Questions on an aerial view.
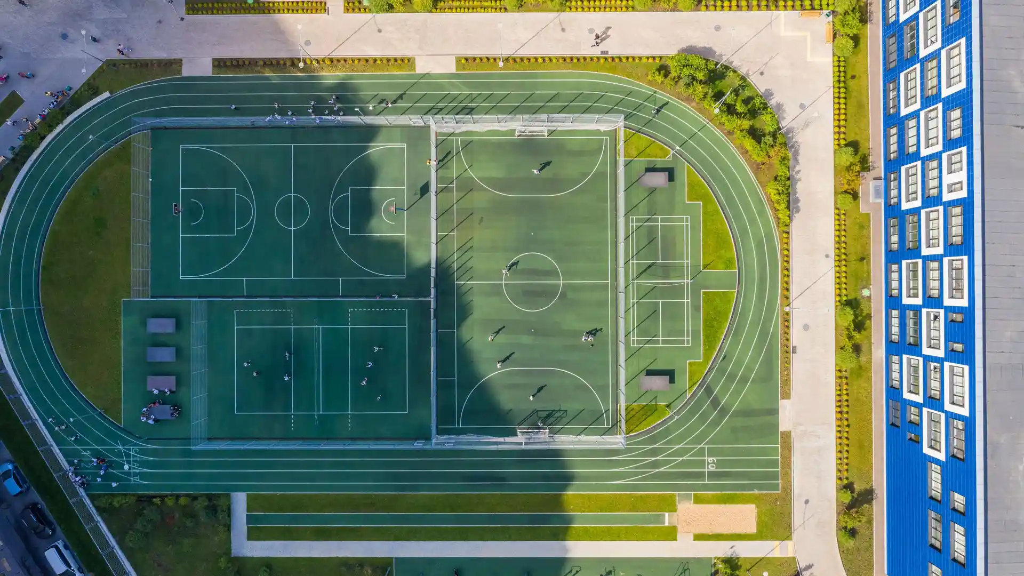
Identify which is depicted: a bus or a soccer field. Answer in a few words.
soccer field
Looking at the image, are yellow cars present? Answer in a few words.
No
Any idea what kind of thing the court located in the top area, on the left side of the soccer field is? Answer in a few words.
basketball court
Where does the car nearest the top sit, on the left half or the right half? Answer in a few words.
left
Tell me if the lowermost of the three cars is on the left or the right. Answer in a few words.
left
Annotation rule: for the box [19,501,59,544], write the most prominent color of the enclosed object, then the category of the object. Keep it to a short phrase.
black car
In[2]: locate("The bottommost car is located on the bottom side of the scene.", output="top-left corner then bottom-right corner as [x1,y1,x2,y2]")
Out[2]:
[51,541,93,576]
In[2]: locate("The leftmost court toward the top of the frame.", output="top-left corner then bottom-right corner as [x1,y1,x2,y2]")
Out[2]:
[151,126,436,297]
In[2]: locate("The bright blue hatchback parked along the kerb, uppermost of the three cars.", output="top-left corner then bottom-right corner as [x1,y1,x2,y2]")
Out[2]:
[0,463,34,503]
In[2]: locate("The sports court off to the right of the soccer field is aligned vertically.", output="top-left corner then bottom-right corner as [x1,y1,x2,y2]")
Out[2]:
[617,132,737,435]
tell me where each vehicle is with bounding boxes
[0,463,34,503]
[19,501,59,544]
[51,541,93,576]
